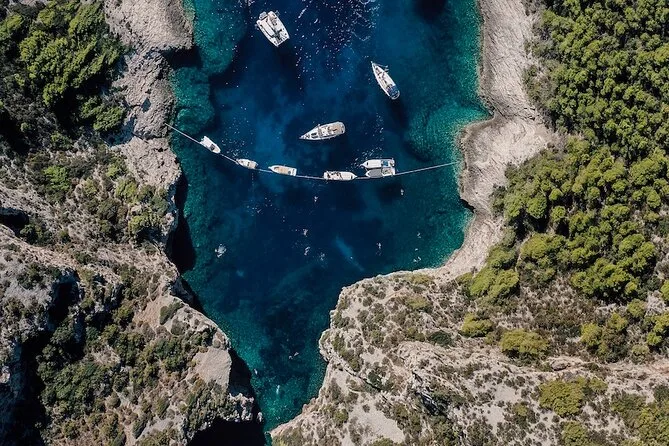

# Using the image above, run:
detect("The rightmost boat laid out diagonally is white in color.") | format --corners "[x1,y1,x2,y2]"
[372,61,400,100]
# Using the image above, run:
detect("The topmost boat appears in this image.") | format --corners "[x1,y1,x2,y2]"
[253,5,291,48]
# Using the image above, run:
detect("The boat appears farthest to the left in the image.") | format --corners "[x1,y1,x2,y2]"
[200,136,220,153]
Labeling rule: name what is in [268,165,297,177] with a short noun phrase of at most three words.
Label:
boat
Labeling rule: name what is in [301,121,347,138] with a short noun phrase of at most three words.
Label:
boat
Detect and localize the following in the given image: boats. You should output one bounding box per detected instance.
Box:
[361,158,397,168]
[200,136,220,153]
[372,61,400,100]
[253,5,291,48]
[237,159,259,169]
[321,170,357,180]
[301,121,347,138]
[268,165,297,177]
[366,167,397,178]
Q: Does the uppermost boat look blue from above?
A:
No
